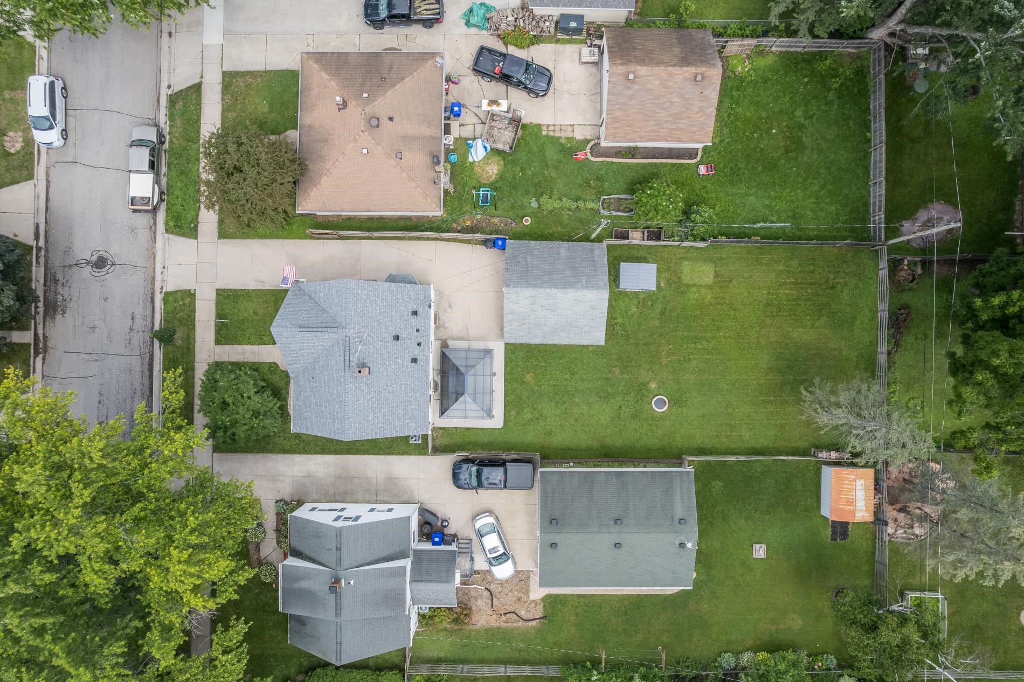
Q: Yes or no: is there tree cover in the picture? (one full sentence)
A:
Yes, there is tree cover in the image.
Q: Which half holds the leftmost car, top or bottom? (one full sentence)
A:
The top half of the photo is where the leftmost car is.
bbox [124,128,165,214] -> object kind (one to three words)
truck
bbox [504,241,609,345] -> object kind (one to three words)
building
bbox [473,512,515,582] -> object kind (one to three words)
car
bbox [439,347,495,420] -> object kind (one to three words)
gazebo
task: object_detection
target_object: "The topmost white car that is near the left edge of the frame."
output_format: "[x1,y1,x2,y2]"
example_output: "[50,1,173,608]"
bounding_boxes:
[26,76,67,149]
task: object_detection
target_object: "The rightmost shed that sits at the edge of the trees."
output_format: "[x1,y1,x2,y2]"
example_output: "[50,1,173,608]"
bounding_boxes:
[821,465,874,522]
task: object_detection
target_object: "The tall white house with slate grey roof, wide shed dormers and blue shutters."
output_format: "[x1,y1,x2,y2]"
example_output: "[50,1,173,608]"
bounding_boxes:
[277,507,460,669]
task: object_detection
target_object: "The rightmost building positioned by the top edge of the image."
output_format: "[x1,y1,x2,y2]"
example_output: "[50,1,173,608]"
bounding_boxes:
[600,28,722,148]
